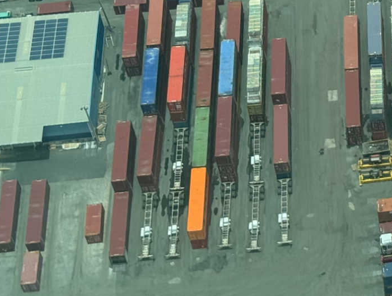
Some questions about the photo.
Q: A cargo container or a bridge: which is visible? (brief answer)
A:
cargo container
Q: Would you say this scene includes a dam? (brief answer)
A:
No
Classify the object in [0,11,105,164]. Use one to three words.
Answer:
building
